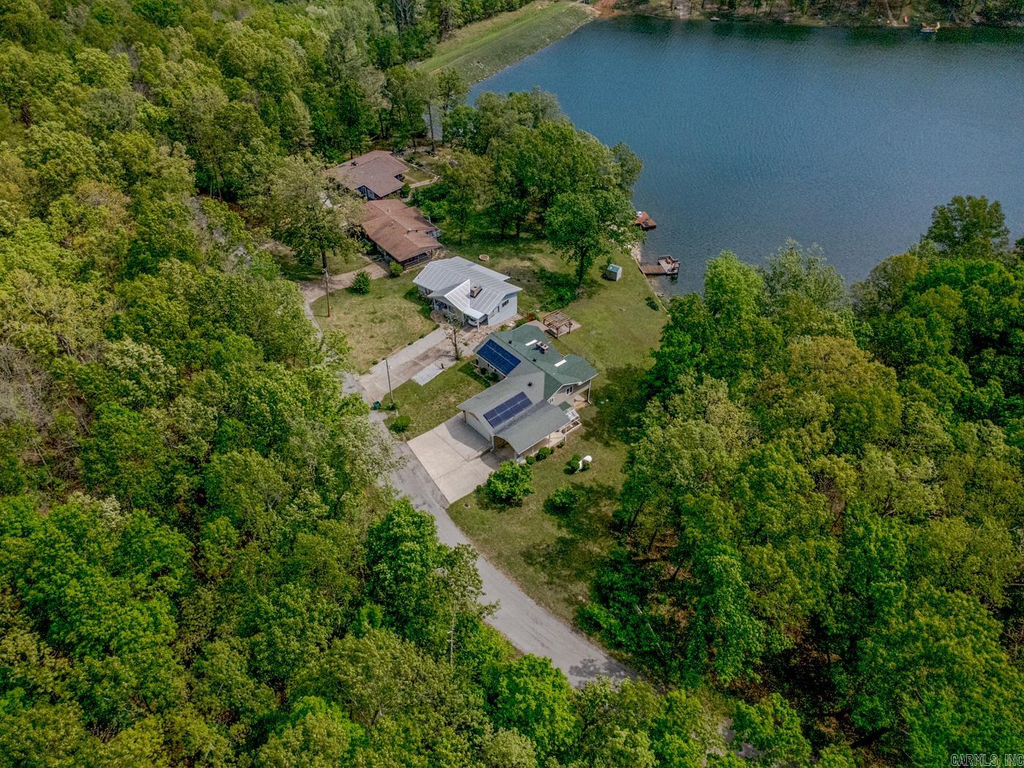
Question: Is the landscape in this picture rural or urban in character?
rural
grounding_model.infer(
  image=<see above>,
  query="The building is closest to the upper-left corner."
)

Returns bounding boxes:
[318,151,416,202]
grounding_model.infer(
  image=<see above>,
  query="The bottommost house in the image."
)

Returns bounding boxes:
[457,326,599,468]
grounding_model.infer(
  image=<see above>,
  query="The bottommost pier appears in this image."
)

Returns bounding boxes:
[648,254,681,277]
